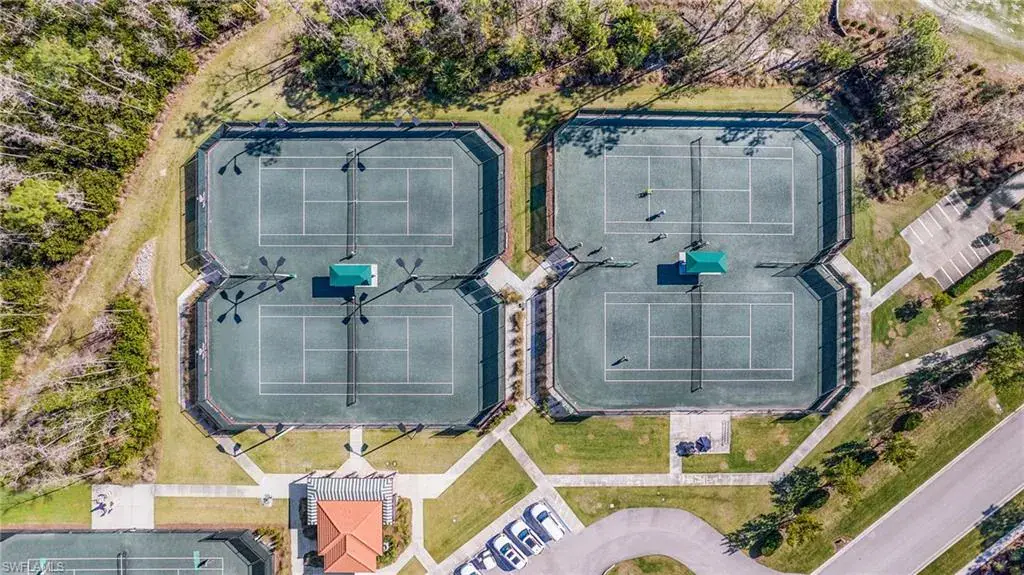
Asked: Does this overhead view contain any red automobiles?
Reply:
No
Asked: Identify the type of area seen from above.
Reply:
sports ground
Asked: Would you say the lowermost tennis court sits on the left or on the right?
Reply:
left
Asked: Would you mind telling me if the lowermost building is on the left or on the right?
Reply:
left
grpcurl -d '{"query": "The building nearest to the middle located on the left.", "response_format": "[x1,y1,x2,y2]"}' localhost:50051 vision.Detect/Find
[329,264,378,287]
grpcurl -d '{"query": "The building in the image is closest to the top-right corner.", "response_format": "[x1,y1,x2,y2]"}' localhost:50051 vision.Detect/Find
[679,251,728,275]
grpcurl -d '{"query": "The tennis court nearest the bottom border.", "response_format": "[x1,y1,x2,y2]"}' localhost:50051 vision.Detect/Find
[0,528,275,575]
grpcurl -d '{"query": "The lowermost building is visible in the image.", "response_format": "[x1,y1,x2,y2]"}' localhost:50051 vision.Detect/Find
[317,500,383,574]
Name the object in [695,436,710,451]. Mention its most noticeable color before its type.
blue umbrella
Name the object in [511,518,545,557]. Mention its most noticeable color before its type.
white car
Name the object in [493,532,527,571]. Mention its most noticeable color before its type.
white car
